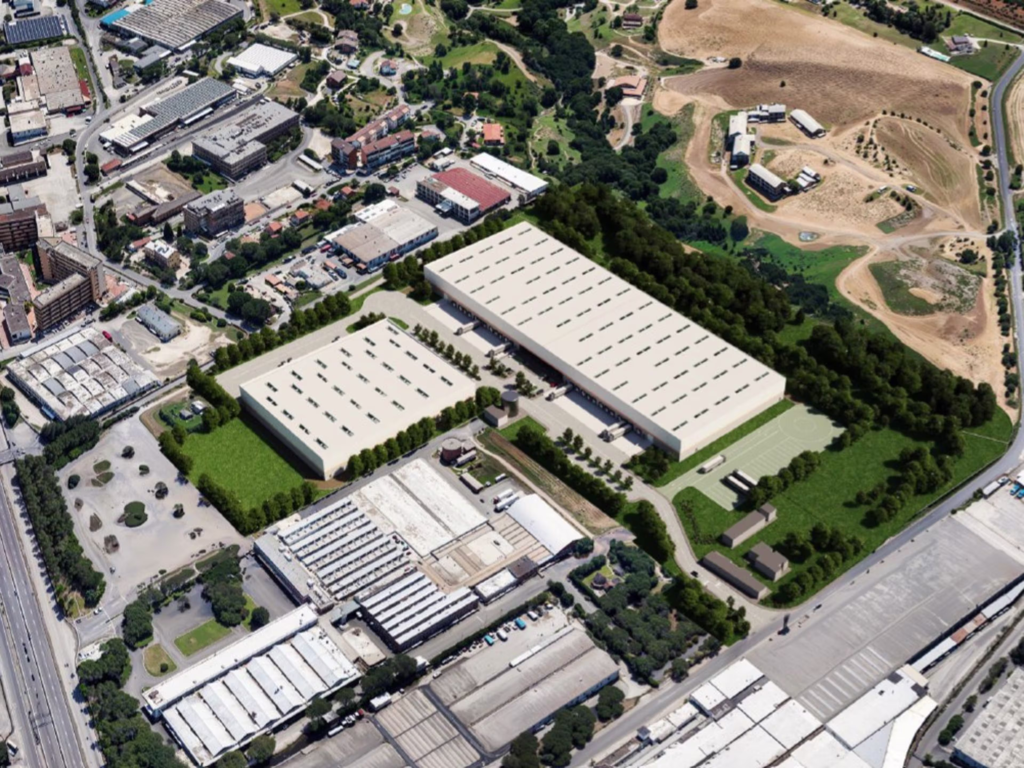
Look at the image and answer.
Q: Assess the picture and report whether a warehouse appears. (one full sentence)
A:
Yes, the frame does contain a warehouse.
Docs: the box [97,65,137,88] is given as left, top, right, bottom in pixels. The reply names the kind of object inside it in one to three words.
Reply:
building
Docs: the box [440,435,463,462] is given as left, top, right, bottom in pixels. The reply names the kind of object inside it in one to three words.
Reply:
silo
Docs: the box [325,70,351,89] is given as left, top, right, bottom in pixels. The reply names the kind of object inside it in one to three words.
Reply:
house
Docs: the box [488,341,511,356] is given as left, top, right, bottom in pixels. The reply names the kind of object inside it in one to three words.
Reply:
vehicle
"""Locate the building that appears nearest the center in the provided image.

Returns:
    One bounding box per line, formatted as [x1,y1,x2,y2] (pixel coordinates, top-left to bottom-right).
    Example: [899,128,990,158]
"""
[485,404,509,426]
